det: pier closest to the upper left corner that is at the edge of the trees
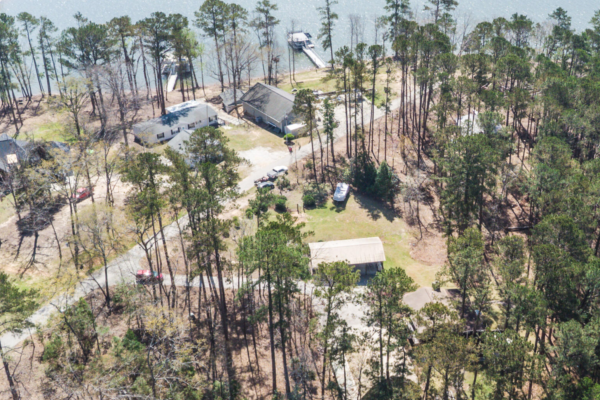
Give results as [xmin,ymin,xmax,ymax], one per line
[162,49,190,88]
